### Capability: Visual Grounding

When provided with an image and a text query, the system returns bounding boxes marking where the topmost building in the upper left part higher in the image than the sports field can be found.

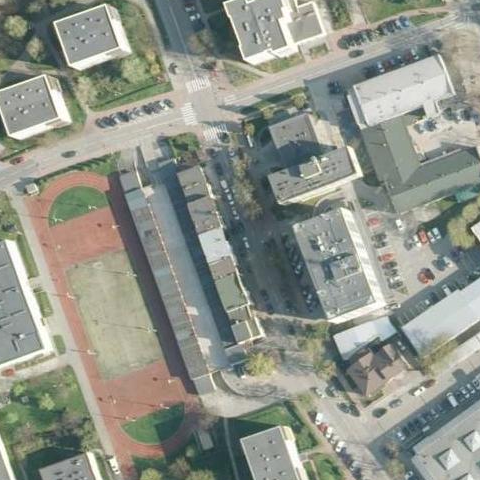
[54,4,130,70]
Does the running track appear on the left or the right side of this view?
left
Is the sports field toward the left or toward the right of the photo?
left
